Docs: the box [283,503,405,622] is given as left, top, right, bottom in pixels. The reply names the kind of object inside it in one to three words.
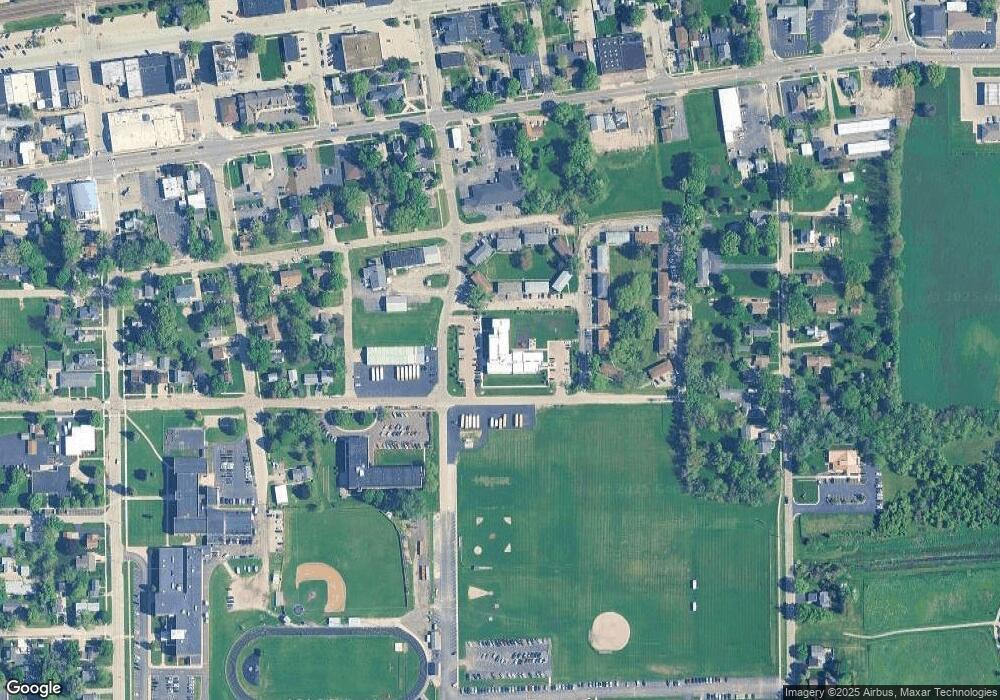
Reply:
baseball field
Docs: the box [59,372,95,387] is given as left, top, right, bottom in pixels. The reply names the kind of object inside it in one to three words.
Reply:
house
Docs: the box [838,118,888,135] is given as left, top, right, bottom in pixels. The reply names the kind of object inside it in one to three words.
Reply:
building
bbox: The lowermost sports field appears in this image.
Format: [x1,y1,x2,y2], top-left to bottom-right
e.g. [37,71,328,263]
[258,638,394,700]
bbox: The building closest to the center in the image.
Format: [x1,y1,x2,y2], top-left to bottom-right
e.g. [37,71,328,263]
[487,318,543,374]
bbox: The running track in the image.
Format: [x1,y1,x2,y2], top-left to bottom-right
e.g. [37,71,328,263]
[225,627,428,700]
